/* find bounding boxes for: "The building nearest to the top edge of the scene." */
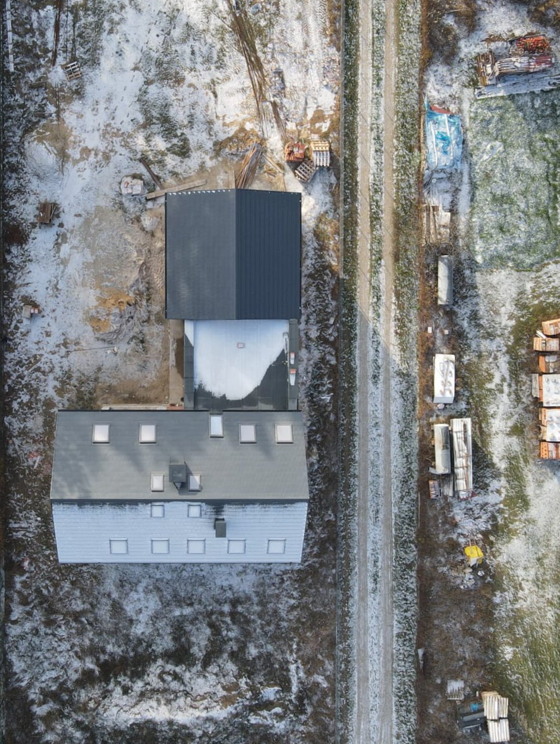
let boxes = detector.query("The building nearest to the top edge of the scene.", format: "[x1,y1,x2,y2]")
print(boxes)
[163,188,303,319]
